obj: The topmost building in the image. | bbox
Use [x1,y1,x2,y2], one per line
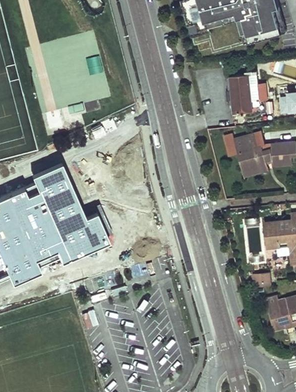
[183,0,279,52]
